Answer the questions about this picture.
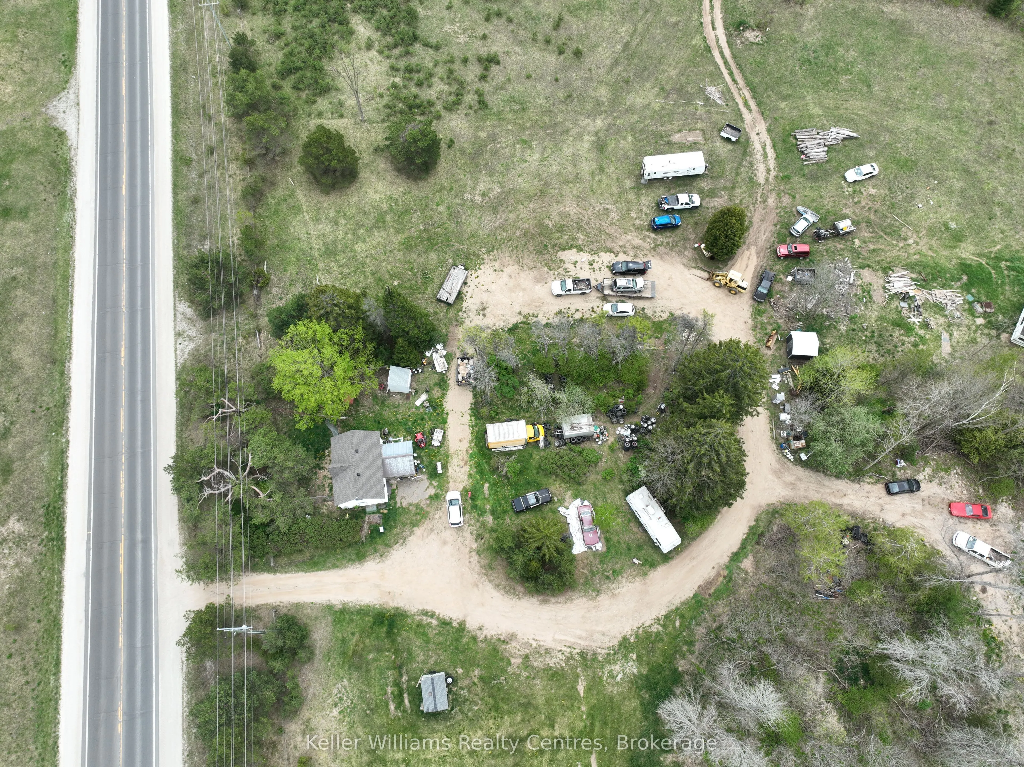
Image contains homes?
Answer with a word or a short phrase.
Yes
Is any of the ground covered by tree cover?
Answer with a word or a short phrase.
Yes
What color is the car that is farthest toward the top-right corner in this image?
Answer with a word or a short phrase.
white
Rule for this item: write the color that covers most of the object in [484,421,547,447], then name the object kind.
white truck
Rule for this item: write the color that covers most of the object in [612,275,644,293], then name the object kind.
white car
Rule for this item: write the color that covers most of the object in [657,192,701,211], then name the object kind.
white vehicle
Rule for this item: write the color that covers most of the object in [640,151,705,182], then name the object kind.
white trailer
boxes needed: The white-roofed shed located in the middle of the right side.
[785,331,819,361]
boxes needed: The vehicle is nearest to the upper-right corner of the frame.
[841,163,881,184]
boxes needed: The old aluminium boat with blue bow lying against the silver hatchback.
[797,207,819,224]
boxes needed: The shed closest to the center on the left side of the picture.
[387,366,413,393]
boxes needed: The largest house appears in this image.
[327,429,416,509]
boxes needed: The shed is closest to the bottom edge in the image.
[421,673,449,713]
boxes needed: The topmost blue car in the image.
[649,213,682,231]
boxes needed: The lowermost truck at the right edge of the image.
[951,532,1010,571]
